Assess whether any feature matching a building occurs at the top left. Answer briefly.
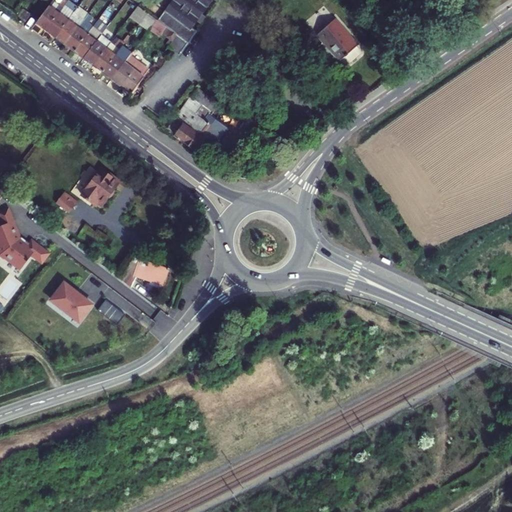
Yes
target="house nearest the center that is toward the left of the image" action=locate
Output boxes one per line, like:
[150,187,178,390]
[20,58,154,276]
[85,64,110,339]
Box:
[134,262,168,286]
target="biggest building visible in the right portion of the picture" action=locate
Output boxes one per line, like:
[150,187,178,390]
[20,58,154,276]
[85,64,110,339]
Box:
[318,18,358,60]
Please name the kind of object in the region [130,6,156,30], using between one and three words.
shed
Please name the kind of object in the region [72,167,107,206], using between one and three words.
house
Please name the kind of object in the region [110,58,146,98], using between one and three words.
house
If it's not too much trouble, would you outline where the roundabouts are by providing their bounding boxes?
[214,190,318,292]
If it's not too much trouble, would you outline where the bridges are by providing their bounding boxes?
[416,288,512,366]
